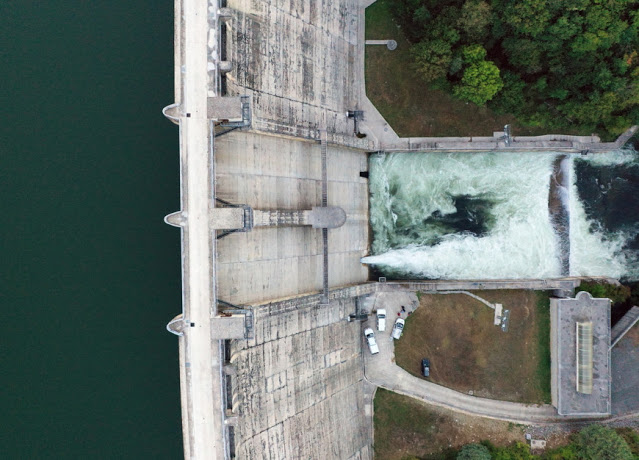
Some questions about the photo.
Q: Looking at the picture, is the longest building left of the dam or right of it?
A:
to its right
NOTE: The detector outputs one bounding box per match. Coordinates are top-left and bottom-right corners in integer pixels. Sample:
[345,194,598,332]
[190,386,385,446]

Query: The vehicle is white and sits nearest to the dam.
[364,328,378,355]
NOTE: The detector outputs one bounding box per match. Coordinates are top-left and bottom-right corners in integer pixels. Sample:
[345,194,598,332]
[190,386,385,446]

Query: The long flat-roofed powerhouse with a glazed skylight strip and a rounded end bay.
[550,289,610,414]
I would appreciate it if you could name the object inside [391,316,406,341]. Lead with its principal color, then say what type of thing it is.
white vehicle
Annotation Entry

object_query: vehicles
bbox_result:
[364,328,378,355]
[421,356,432,378]
[376,308,387,331]
[391,316,406,341]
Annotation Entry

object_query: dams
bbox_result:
[162,0,370,460]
